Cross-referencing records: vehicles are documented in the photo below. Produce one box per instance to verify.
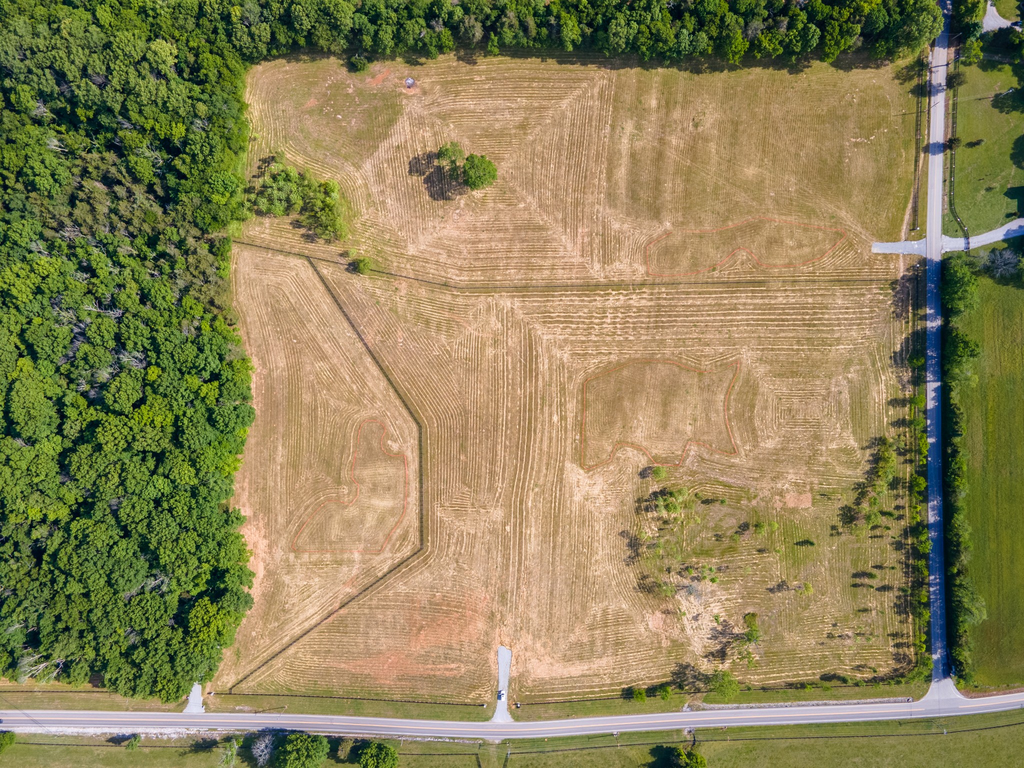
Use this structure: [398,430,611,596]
[499,691,506,702]
[1014,20,1024,26]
